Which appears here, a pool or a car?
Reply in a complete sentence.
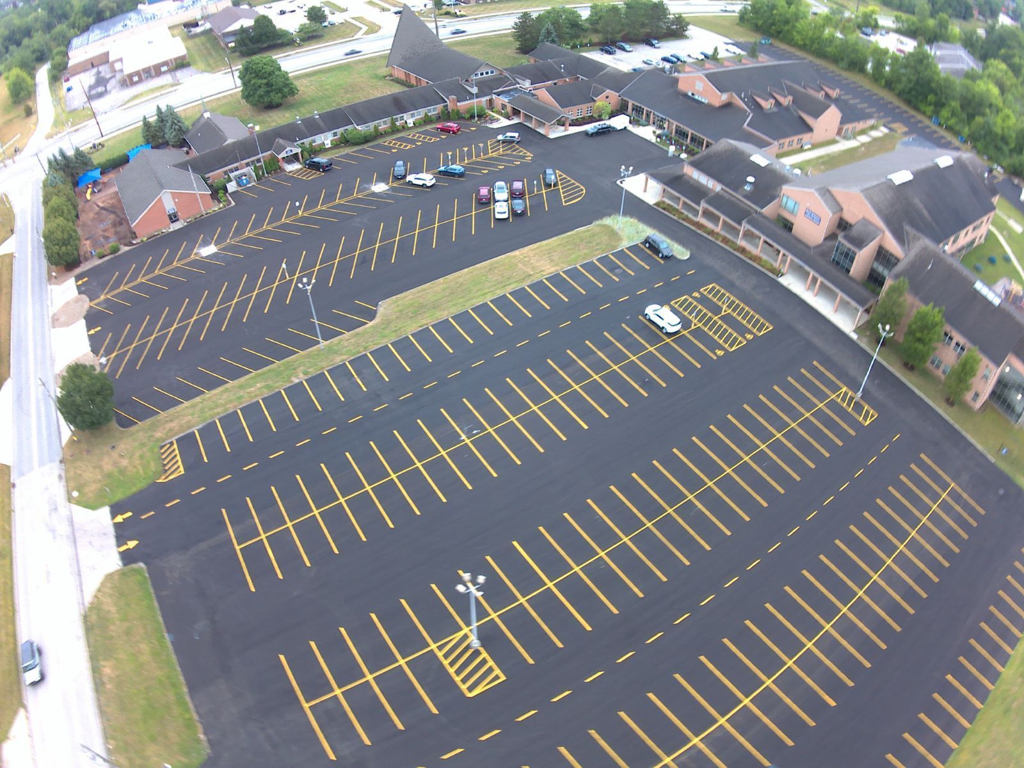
This aerial view contains a car.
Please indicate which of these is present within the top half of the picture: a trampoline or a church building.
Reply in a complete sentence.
You can see a church building within the top half of the picture.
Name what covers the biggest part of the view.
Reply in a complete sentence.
The largest share of the image is taken up by paved ground.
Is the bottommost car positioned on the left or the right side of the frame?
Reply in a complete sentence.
You can find the bottommost car on the left side of the picture.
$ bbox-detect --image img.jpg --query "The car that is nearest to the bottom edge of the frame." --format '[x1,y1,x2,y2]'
[17,640,44,689]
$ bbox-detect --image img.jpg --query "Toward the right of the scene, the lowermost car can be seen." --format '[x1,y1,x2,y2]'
[647,307,684,336]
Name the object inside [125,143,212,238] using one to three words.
building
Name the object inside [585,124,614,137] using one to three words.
vehicle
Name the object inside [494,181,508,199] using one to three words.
car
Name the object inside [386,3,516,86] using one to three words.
building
